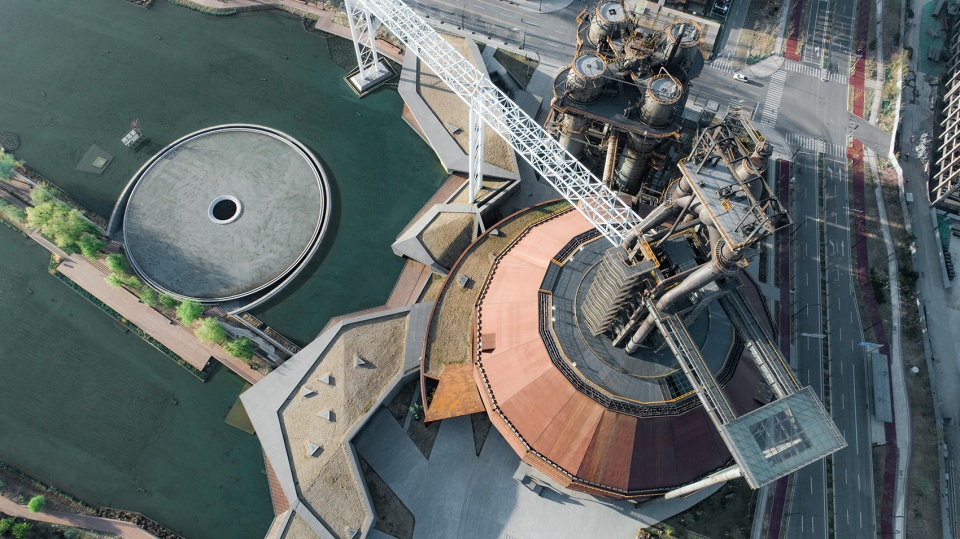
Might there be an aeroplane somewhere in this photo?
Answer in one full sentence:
No, there is no aeroplane in the image.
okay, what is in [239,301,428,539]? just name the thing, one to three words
building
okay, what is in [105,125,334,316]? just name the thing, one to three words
building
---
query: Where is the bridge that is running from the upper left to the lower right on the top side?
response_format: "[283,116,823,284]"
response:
[338,0,640,246]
